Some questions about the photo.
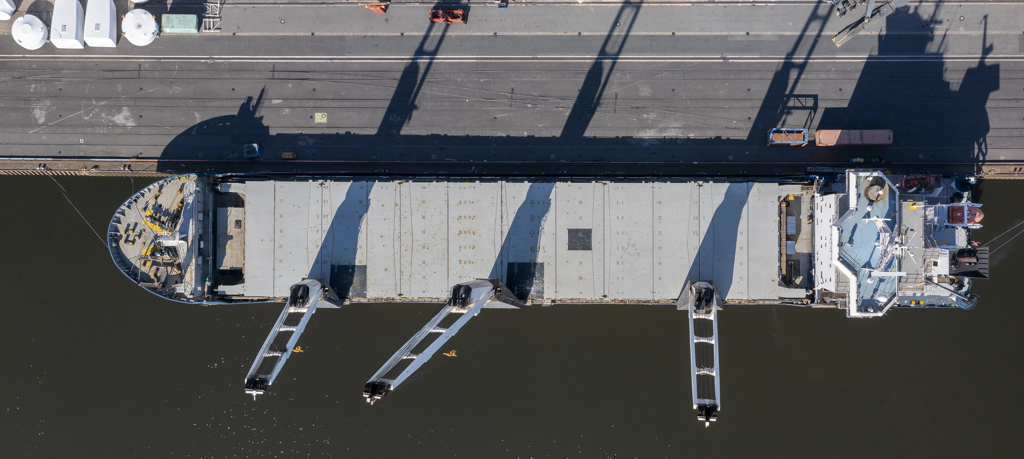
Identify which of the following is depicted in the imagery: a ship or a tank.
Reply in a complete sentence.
This aerial view contains a ship.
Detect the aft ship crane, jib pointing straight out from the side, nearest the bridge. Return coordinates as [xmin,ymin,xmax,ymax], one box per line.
[677,281,723,428]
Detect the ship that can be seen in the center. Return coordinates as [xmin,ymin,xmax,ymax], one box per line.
[108,169,990,318]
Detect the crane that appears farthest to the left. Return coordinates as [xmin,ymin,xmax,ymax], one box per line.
[244,279,342,398]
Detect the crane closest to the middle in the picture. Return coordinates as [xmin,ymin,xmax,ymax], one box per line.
[363,279,527,406]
